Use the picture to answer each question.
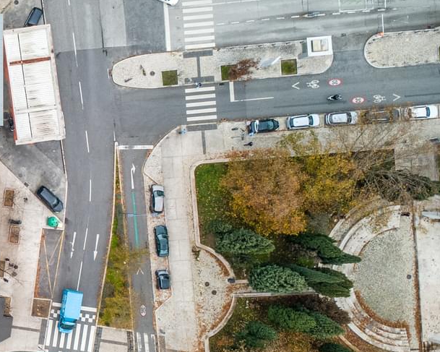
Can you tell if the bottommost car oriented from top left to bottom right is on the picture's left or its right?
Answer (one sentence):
The bottommost car oriented from top left to bottom right sits on the left side.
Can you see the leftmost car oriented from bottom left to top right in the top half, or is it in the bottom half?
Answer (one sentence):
Seen from above, the leftmost car oriented from bottom left to top right lies in the top half of the view.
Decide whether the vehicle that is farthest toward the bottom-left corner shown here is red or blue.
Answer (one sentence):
The vehicle that is farthest toward the bottom-left corner looks blue in the image.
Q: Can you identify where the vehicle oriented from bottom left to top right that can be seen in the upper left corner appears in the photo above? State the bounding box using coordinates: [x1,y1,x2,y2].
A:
[21,1,47,29]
